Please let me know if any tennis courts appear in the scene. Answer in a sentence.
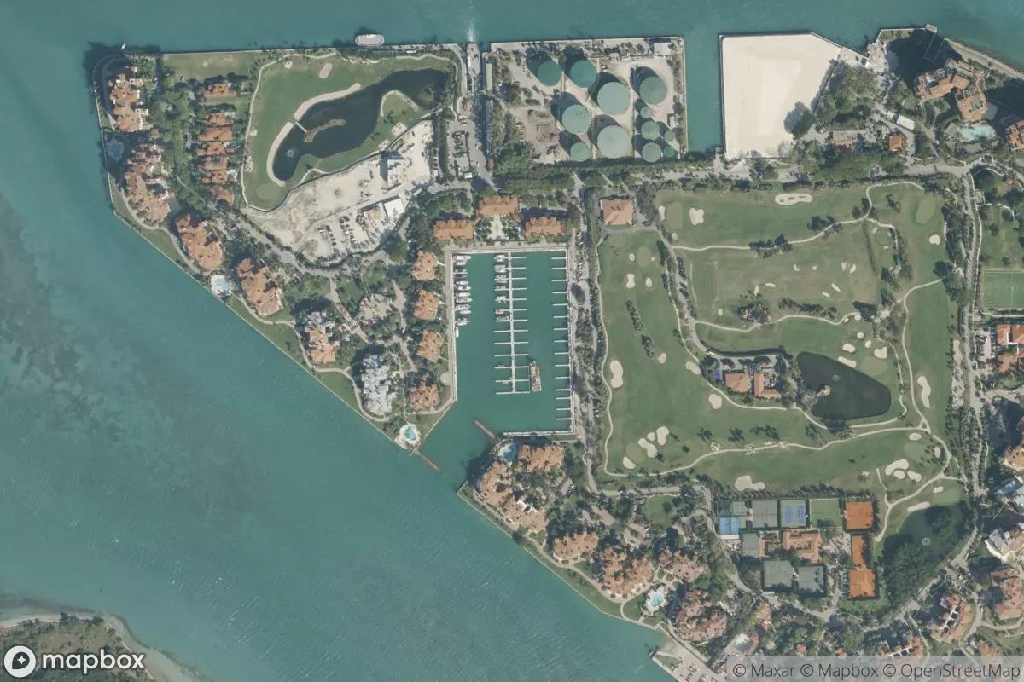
Yes, this view includes a tennis court.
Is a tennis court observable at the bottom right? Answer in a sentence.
Yes, I can see a tennis court at the bottom right.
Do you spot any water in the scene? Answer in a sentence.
Yes, some water is visible.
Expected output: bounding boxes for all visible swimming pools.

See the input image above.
[210,272,232,295]
[498,440,518,465]
[107,138,123,161]
[396,423,420,451]
[957,124,997,140]
[732,633,754,653]
[645,585,668,614]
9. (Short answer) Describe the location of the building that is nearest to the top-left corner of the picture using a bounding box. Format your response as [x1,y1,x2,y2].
[107,66,150,134]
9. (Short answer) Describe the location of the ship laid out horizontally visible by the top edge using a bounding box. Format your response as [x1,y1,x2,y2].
[355,34,384,46]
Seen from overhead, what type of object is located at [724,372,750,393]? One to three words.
building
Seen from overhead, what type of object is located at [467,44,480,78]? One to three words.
ship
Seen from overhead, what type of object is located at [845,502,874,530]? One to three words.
tennis court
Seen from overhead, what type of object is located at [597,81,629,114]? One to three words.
storage tank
